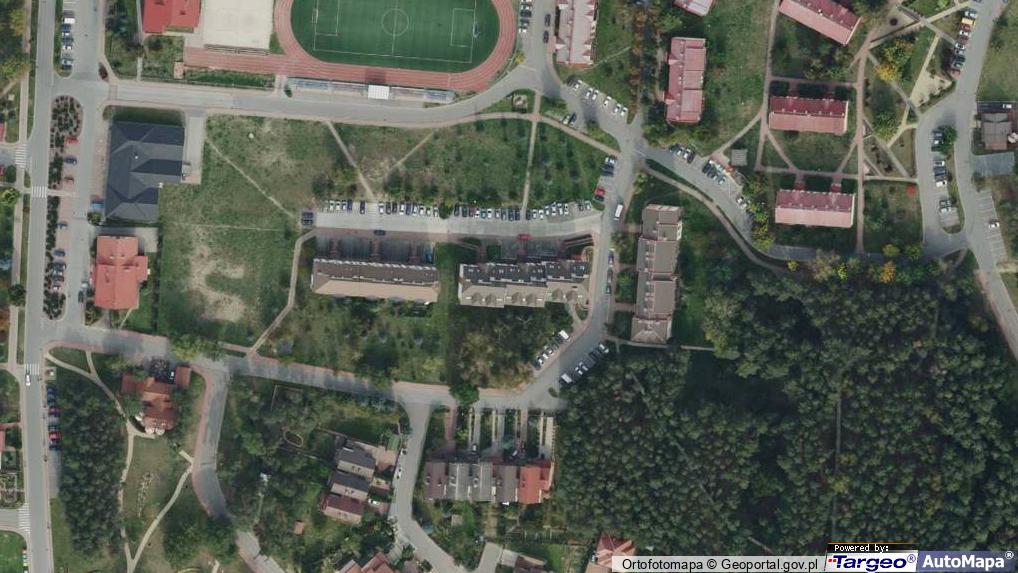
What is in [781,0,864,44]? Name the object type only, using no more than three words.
building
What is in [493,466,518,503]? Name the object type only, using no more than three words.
house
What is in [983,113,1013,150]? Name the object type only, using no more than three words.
house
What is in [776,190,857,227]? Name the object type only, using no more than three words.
building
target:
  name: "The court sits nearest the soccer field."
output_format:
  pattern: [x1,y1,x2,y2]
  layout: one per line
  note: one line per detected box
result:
[204,0,273,50]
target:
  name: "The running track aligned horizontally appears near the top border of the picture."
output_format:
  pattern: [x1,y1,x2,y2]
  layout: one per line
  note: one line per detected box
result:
[183,0,514,89]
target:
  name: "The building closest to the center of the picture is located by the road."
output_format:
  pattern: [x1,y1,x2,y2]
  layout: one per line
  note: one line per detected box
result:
[458,262,590,307]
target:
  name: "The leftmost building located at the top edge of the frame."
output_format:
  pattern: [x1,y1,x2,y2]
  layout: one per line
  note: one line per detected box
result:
[140,0,200,34]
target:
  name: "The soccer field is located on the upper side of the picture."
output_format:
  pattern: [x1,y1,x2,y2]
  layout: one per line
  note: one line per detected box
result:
[291,0,497,72]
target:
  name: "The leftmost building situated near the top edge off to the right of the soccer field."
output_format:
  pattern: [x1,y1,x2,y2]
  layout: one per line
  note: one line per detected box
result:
[556,0,598,68]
